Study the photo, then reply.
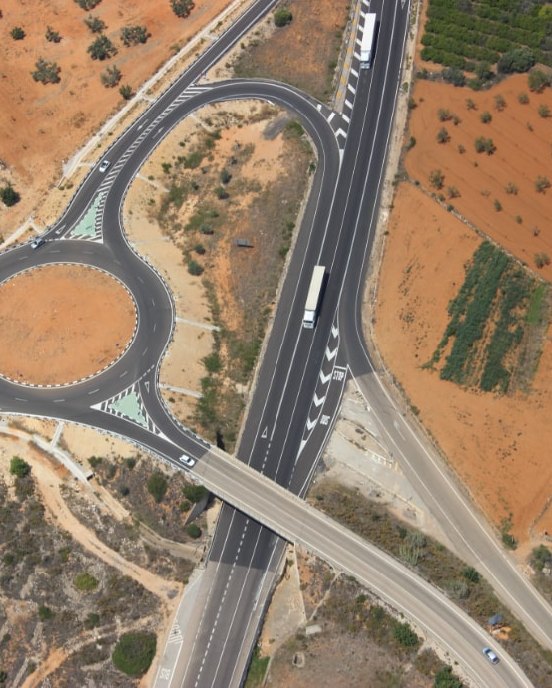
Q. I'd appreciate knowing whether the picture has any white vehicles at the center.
Yes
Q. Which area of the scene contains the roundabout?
left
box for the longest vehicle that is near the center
[301,269,329,327]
